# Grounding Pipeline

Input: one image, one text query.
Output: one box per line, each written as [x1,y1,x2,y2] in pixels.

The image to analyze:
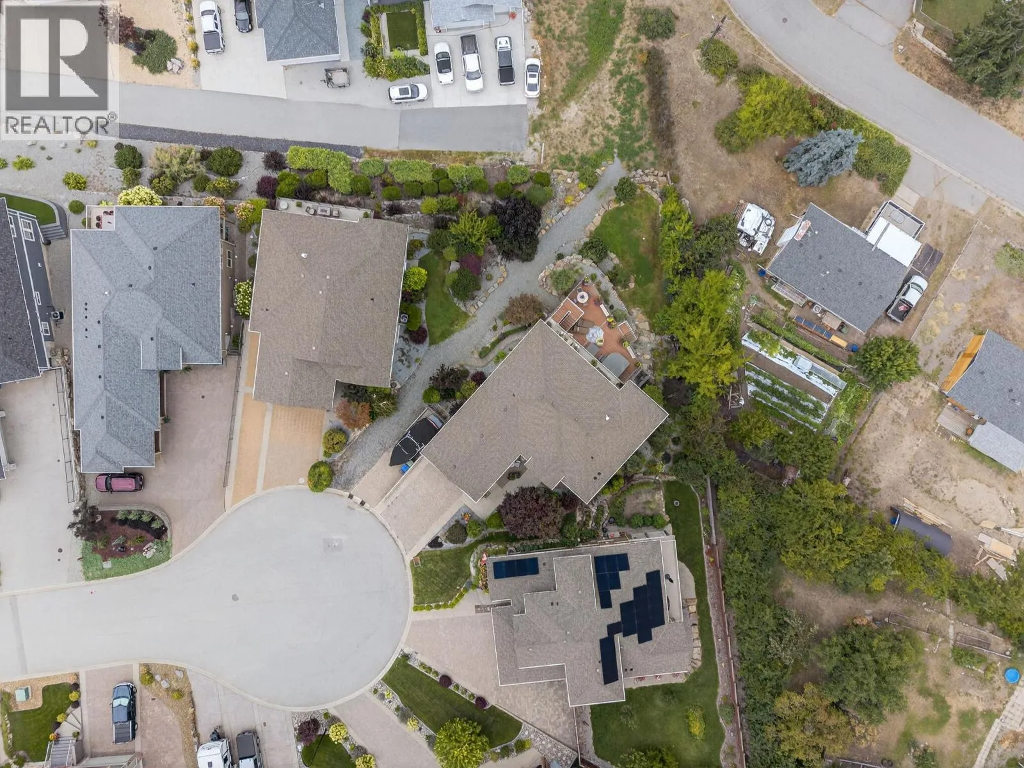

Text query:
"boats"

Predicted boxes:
[394,412,444,468]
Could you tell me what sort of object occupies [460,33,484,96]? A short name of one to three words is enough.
truck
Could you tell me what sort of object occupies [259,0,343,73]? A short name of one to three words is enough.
house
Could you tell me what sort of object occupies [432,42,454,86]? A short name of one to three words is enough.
car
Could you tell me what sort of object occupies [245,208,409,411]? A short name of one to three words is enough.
house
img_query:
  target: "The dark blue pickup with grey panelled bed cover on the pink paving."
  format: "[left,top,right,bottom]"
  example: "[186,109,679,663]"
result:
[109,679,140,744]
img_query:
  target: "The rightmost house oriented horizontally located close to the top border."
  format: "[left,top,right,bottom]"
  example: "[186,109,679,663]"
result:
[430,0,524,39]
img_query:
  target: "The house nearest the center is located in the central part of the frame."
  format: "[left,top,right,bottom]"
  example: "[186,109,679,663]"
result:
[420,319,669,505]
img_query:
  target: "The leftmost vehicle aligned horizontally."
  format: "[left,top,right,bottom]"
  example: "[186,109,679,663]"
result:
[98,472,147,495]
